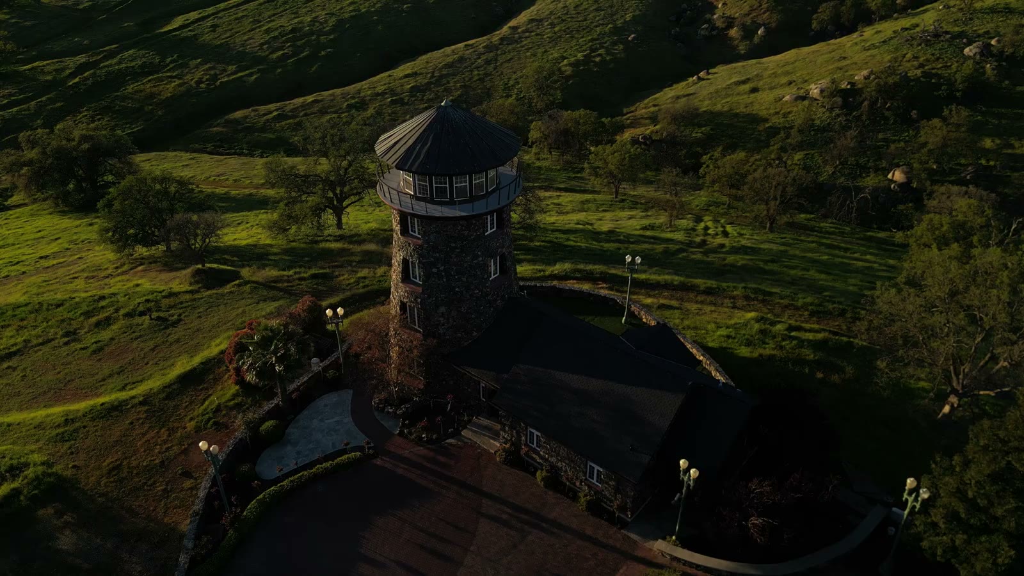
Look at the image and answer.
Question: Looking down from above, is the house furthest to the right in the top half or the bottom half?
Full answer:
The bottom half of the photo is where the house furthest to the right is.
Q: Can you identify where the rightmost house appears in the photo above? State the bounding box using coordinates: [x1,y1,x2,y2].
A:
[457,285,777,520]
